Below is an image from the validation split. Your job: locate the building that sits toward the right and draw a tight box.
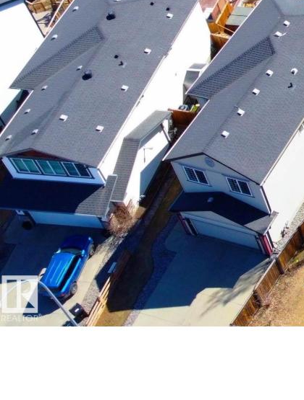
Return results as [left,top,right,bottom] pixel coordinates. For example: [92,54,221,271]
[160,0,304,260]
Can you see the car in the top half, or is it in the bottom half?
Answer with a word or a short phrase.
bottom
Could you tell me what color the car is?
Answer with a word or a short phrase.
blue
